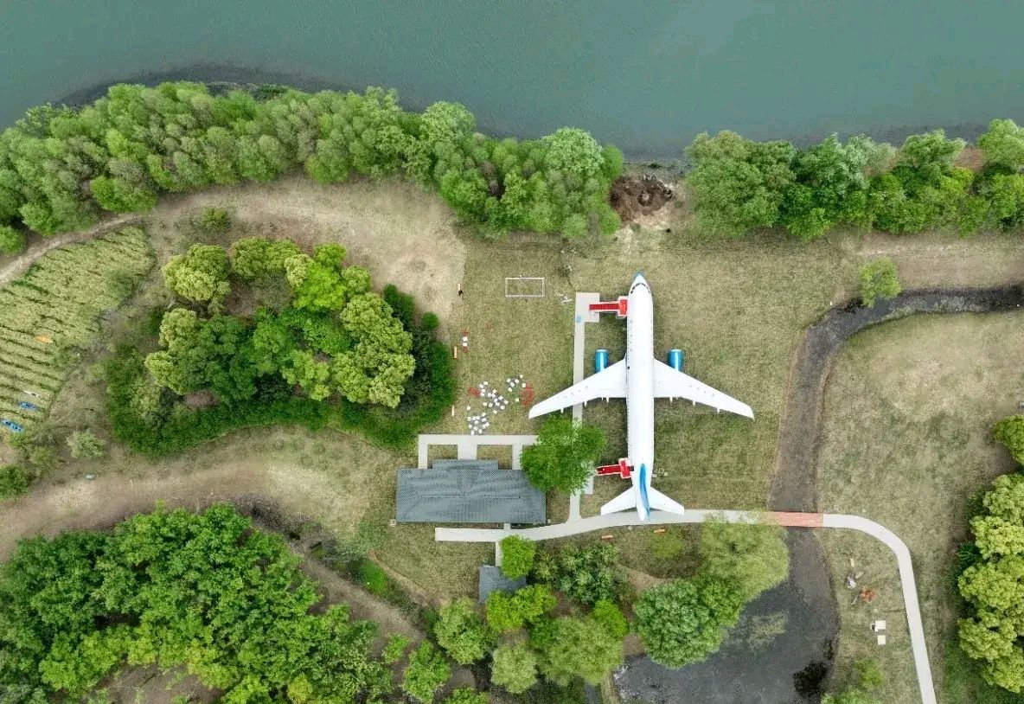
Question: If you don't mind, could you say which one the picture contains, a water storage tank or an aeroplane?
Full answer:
Of the two, only an aeroplane appears.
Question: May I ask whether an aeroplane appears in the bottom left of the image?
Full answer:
No, looking in the bottom left of the image, there is no aeroplane.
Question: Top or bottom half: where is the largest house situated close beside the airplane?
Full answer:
It is in the bottom half that the largest house situated close beside the airplane appears.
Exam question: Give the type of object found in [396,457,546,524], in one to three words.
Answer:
house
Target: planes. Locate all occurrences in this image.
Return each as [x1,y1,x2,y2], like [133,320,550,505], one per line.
[529,273,753,522]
